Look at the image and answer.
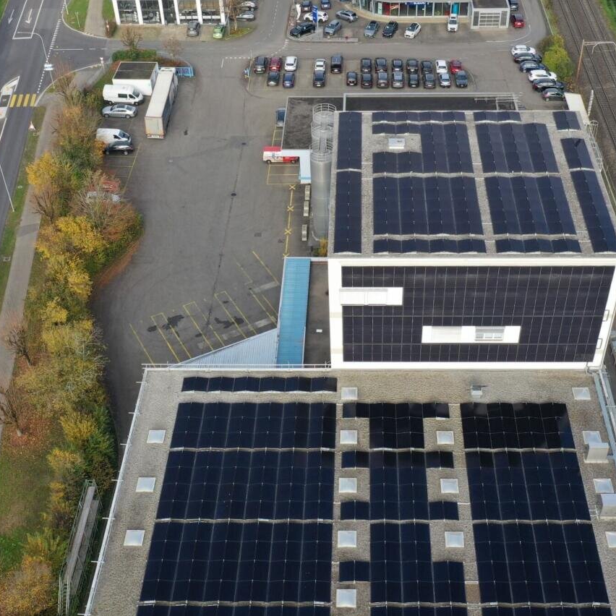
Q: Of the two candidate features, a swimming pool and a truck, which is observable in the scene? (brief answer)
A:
truck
